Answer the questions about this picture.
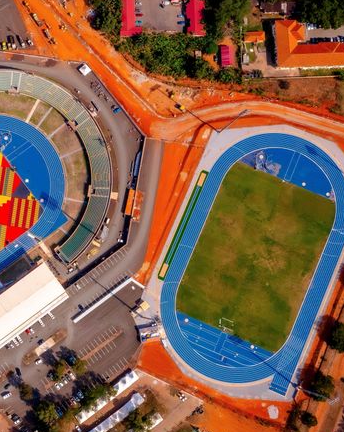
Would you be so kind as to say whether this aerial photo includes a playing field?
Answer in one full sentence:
Yes, a playing field can be made out from above.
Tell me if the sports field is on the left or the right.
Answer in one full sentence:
The sports field is on the right side of the image.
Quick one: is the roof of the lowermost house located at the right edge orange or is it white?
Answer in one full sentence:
The roof of the lowermost house located at the right edge looks orange in the image.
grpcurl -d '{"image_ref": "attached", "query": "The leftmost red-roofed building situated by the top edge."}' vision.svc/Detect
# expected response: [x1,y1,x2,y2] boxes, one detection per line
[120,0,142,38]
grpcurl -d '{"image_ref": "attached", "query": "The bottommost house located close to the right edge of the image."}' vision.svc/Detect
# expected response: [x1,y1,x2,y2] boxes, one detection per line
[271,20,344,69]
